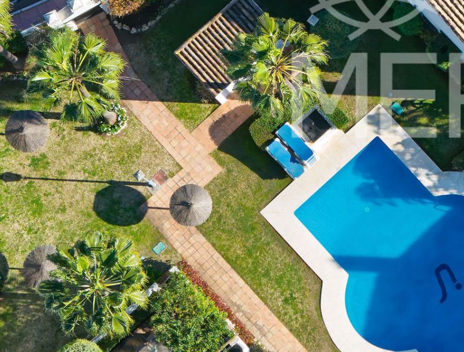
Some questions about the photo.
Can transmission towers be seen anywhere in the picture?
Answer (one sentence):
No, the photo shows no transmission tower.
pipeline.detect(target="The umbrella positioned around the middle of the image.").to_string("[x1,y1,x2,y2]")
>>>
[168,182,213,228]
